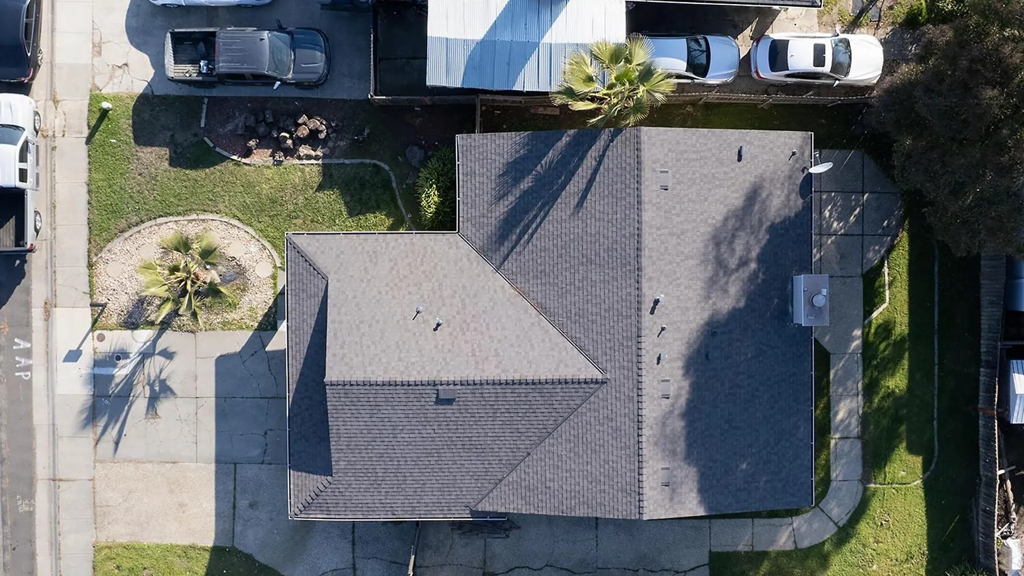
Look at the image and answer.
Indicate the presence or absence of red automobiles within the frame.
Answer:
No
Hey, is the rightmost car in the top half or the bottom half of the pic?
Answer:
top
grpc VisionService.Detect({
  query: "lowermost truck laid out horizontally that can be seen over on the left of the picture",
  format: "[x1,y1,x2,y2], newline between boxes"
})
[164,20,331,89]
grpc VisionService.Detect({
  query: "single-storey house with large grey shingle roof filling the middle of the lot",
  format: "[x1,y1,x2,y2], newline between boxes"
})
[286,125,831,520]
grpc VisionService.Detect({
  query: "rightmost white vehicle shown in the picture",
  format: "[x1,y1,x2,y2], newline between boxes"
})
[747,26,881,91]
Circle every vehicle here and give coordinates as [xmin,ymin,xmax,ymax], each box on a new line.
[0,95,43,256]
[150,0,280,13]
[0,0,45,87]
[624,26,738,91]
[164,20,331,89]
[747,26,881,91]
